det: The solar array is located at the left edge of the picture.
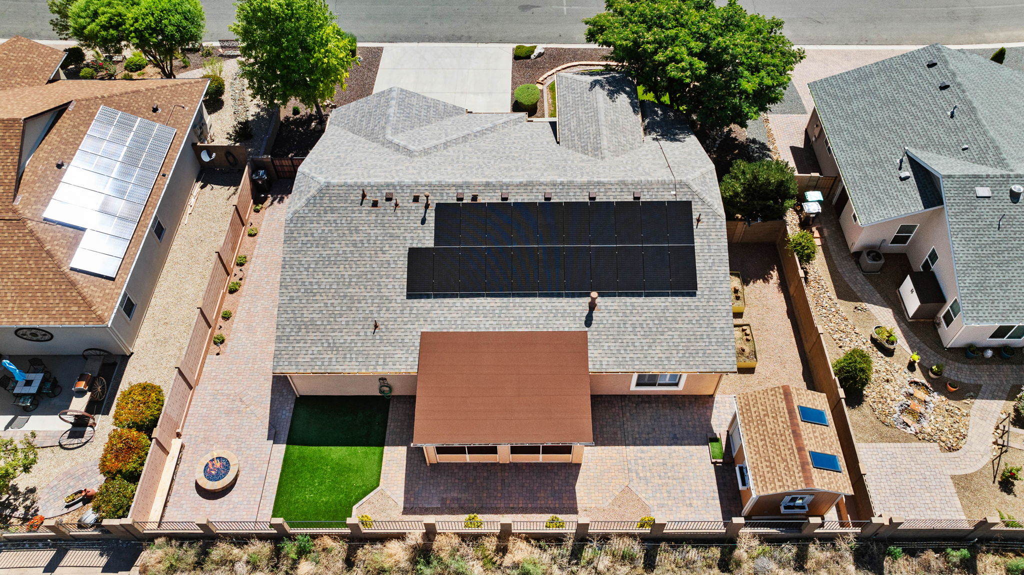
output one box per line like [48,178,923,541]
[39,108,177,277]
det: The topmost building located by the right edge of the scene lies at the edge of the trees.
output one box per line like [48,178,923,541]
[803,45,1024,350]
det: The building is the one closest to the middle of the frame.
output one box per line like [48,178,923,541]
[273,72,737,466]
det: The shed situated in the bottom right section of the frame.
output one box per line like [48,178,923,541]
[725,386,855,517]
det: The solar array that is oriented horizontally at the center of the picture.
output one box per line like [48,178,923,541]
[406,202,695,301]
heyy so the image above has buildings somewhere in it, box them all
[273,72,737,466]
[0,36,223,356]
[725,386,855,517]
[803,45,1024,350]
